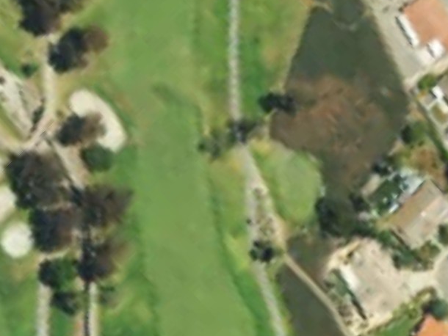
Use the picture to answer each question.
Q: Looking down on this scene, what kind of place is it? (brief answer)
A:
golf course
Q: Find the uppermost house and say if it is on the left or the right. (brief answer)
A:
right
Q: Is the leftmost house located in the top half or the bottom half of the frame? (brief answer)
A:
bottom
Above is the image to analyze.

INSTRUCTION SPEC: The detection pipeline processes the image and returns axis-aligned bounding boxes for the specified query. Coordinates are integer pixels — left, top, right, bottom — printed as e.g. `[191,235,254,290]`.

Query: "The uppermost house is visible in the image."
[400,0,448,61]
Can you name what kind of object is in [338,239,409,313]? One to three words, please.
house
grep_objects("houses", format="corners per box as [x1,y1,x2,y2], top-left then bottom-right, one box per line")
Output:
[400,0,448,61]
[338,239,409,313]
[372,179,448,250]
[411,314,448,336]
